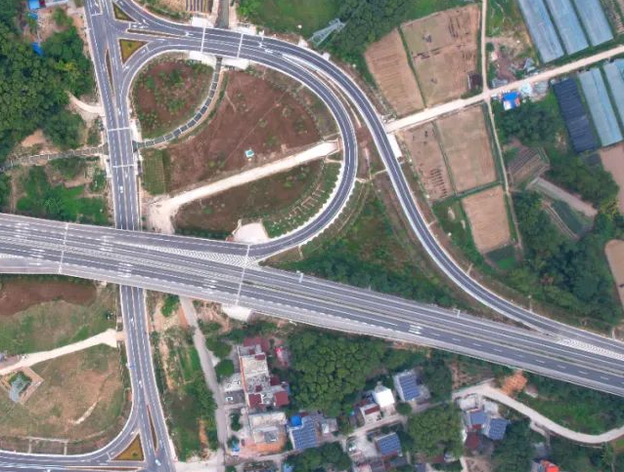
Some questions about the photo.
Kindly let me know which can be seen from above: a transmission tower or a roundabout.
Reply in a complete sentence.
This aerial view contains a transmission tower.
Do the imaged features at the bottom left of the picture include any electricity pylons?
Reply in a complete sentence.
Yes, the scene does show an electricity pylon at the bottom left of the picture.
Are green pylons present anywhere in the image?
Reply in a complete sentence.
No, there's no green pylon here.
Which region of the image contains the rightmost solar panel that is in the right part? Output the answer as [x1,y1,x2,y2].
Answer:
[490,419,506,438]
